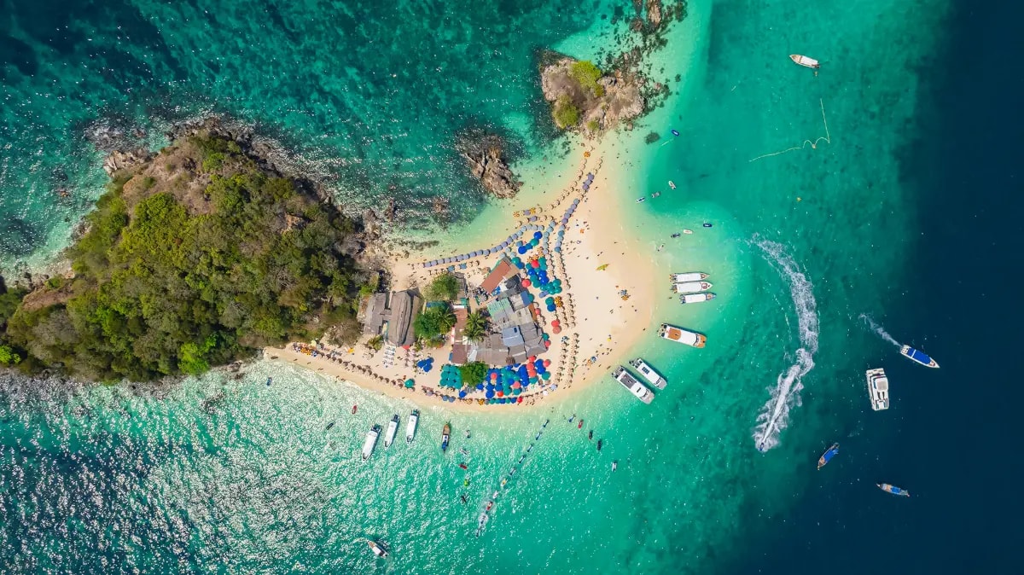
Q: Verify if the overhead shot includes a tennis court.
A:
No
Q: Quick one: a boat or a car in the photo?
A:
boat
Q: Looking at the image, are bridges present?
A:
No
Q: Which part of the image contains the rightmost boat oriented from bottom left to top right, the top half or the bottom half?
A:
bottom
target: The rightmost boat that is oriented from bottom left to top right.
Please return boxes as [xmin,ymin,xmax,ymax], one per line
[818,442,841,471]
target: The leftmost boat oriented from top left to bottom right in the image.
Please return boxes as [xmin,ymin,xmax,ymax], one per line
[368,539,390,559]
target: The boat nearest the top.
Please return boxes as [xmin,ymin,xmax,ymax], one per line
[789,55,821,71]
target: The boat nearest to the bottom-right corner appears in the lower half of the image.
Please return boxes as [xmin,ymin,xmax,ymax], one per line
[877,484,912,497]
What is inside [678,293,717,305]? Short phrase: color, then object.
white boat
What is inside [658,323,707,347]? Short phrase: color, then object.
white boat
